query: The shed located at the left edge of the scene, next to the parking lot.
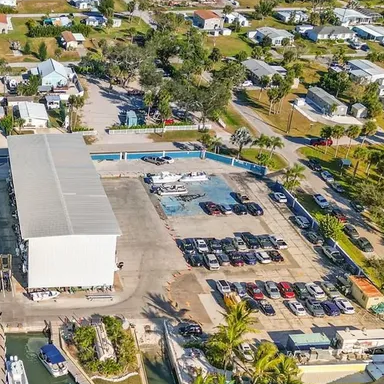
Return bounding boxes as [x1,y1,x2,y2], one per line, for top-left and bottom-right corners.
[7,133,122,286]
